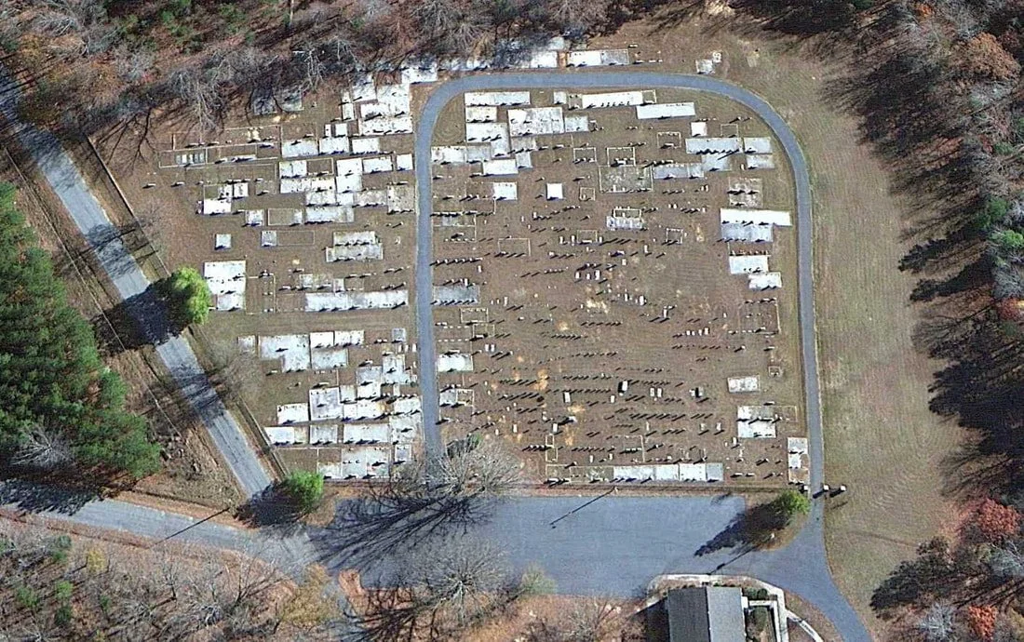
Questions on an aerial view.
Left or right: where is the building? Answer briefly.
right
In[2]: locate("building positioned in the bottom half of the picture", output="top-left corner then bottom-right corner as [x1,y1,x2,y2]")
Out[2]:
[668,582,749,642]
